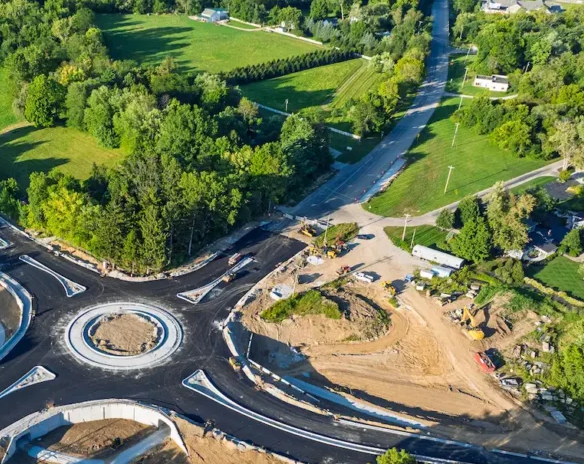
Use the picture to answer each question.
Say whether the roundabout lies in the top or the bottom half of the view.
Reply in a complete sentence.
You can find the roundabout in the bottom half.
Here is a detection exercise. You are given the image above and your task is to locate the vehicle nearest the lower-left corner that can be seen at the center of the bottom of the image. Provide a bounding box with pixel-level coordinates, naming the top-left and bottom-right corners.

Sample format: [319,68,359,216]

[231,356,244,373]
